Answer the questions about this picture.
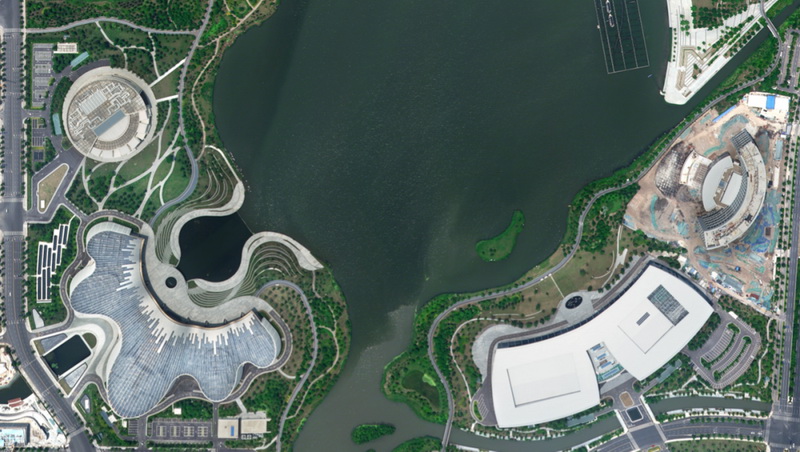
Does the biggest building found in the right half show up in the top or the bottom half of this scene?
bottom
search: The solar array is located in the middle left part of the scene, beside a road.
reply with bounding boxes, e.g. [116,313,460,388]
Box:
[28,215,76,303]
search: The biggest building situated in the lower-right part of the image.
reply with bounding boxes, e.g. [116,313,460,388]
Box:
[492,262,717,427]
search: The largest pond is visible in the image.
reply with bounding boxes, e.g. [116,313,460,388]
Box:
[178,209,252,282]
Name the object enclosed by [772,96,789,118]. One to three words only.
building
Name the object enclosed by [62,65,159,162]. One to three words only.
building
